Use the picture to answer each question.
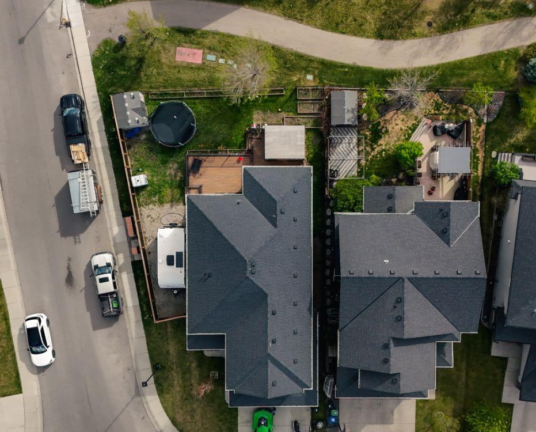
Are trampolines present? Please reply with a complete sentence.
Yes, looking at the shot, I can spot a trampoline.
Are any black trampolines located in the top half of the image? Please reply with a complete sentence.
Yes, a black trampoline appears in the top half of the image.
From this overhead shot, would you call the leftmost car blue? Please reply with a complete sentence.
No, from above the leftmost car looks white.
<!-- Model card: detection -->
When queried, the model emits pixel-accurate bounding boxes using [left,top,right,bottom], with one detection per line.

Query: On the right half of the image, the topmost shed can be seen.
[329,90,358,127]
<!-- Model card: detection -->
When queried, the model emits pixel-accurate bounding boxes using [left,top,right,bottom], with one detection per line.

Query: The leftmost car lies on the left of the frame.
[25,311,57,369]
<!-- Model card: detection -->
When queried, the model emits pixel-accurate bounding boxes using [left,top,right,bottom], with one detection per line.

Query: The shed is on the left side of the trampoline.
[111,91,149,131]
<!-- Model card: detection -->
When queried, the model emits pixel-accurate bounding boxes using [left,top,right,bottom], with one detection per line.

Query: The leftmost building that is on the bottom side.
[184,166,319,407]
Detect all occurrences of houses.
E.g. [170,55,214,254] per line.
[490,179,536,401]
[184,166,319,407]
[333,186,487,398]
